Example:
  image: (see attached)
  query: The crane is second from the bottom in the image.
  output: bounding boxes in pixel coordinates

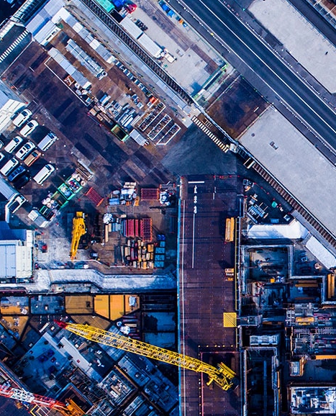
[54,318,247,396]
